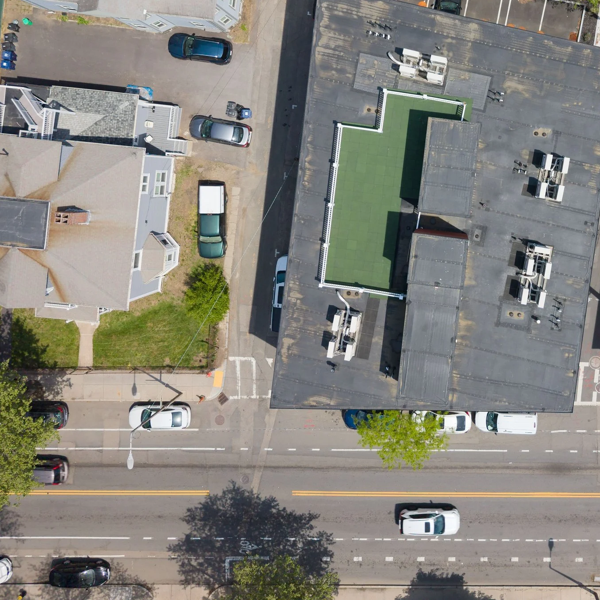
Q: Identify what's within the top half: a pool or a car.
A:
car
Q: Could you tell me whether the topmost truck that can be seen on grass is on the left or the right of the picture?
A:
left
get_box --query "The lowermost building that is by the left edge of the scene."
[0,82,192,323]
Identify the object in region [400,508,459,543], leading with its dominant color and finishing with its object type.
white car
